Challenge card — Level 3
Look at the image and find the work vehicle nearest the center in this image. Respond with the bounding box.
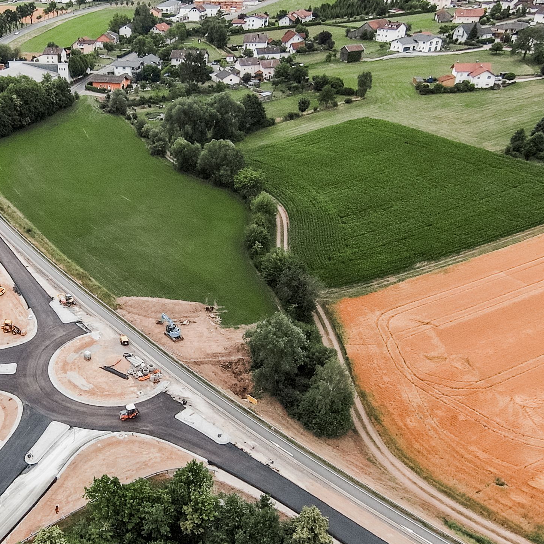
[154,305,186,345]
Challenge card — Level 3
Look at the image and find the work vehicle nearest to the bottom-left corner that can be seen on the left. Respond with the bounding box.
[116,400,144,422]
